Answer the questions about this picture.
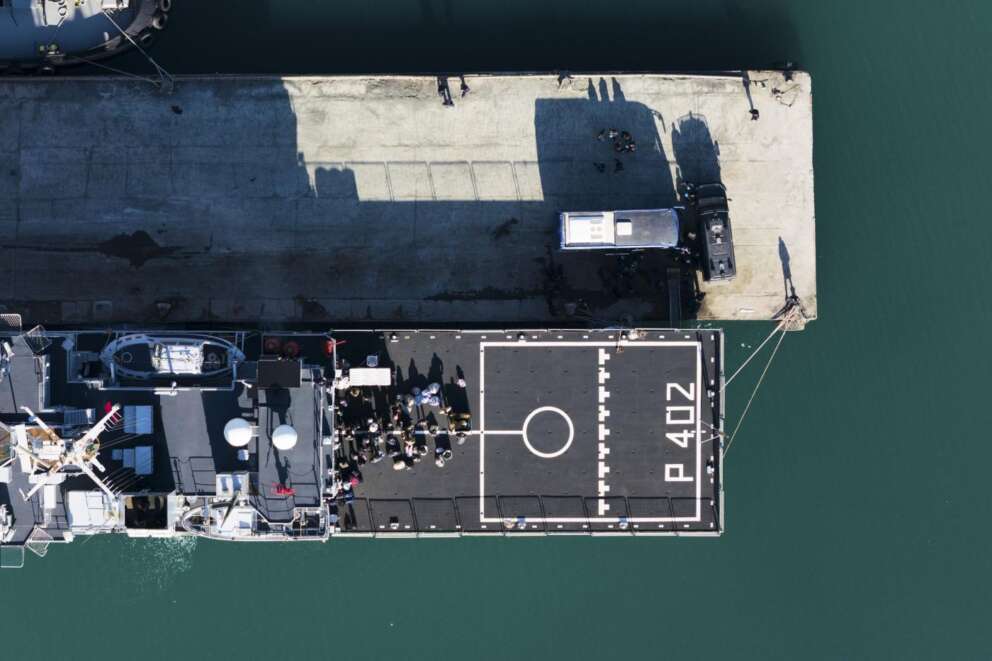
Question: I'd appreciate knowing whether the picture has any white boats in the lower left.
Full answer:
Yes, a white boat is visible in the lower left.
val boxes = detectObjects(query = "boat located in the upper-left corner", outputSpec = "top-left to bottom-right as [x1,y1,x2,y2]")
[0,0,170,74]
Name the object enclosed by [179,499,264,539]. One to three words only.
boat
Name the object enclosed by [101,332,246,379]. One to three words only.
boat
